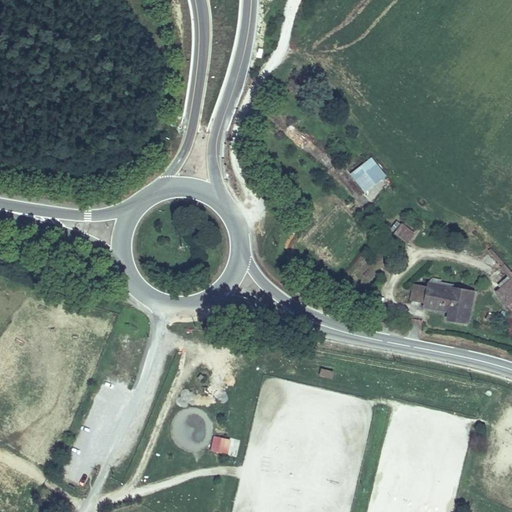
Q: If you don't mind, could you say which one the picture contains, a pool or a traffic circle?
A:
traffic circle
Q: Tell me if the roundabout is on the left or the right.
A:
left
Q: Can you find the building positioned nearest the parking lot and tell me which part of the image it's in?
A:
bottom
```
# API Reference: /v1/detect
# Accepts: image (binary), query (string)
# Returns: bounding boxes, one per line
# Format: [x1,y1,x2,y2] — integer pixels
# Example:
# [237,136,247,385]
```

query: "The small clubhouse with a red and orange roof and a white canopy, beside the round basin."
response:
[210,436,240,458]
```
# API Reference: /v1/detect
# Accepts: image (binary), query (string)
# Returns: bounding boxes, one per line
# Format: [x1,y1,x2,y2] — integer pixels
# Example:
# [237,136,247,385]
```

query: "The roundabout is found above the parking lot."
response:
[59,118,278,317]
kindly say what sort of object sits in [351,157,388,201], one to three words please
barn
